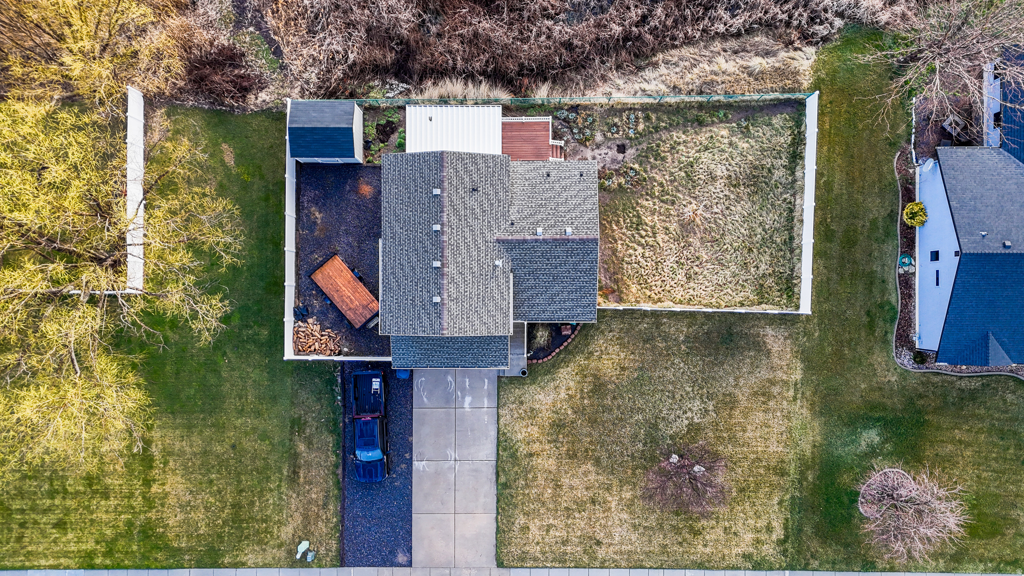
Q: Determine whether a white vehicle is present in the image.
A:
No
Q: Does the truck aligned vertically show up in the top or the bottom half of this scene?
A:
bottom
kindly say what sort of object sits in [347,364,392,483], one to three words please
truck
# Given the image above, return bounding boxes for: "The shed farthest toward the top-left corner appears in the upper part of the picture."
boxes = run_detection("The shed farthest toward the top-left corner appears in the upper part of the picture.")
[284,99,364,163]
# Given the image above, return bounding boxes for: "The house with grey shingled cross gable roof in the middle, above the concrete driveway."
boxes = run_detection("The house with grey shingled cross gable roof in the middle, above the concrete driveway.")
[378,150,601,372]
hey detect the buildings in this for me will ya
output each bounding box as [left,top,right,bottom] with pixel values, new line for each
[284,99,364,163]
[378,150,601,372]
[915,43,1024,367]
